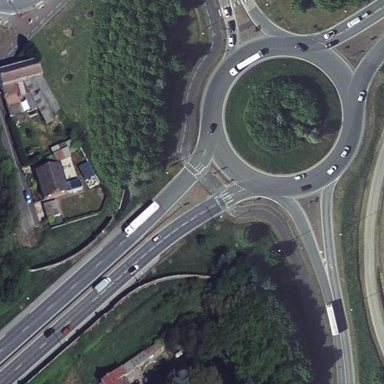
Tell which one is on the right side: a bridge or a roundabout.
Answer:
roundabout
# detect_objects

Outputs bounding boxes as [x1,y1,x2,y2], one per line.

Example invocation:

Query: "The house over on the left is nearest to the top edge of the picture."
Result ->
[0,56,43,84]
